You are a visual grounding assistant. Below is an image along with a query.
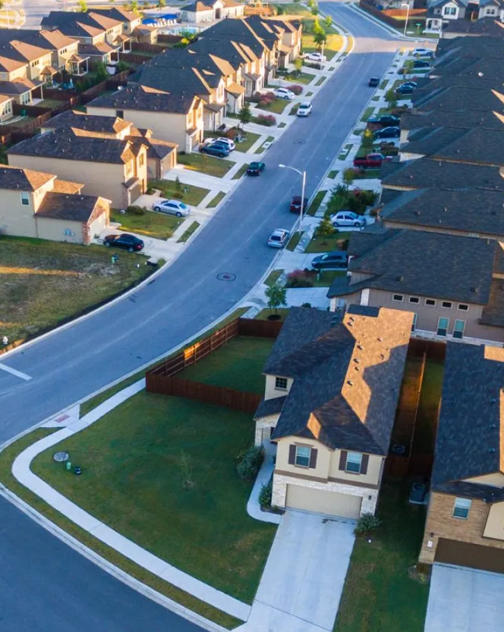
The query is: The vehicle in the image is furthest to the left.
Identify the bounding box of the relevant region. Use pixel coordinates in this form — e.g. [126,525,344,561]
[101,233,147,252]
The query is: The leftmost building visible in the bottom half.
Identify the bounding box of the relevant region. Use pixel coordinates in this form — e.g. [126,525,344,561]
[249,304,414,521]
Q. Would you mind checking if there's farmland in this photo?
No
